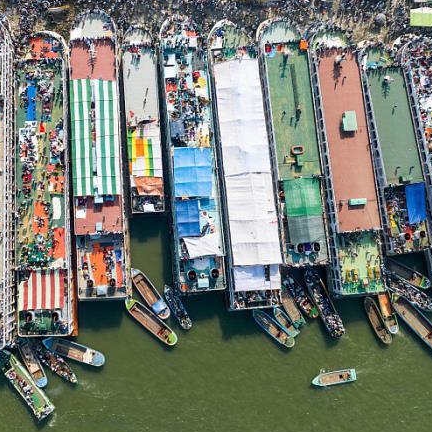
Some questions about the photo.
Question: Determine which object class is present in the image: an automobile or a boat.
boat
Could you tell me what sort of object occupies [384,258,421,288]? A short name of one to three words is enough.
boat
